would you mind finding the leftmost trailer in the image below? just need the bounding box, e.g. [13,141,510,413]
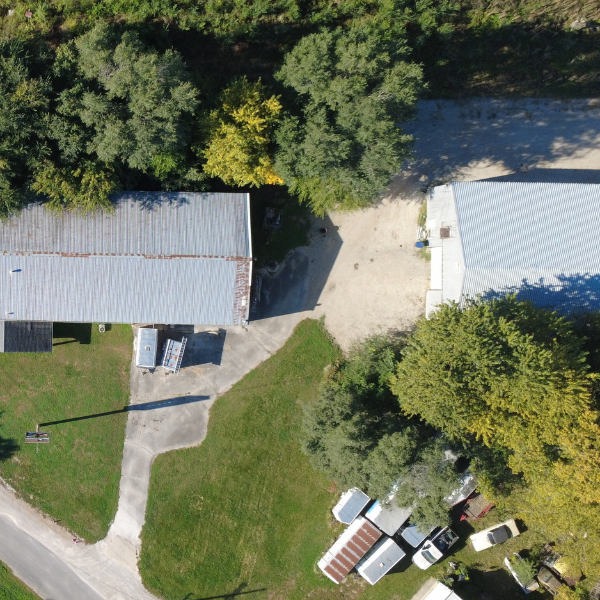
[133,326,158,376]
